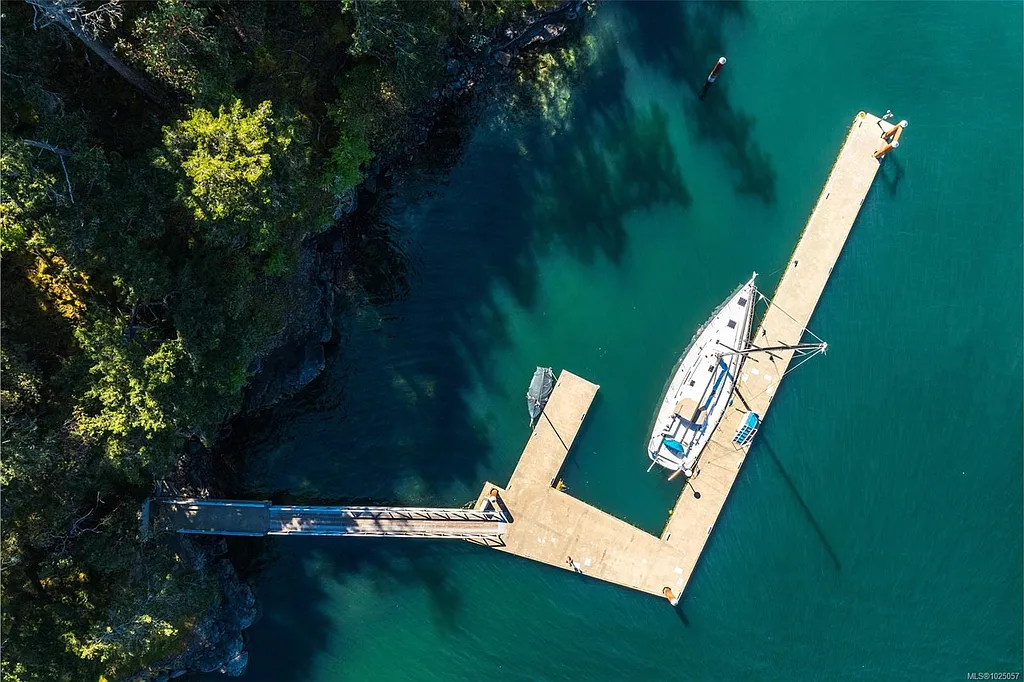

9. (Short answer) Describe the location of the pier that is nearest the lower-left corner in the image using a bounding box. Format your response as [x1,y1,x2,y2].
[149,494,284,538]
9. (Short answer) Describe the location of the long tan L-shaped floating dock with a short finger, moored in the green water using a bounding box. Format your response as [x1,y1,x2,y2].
[470,112,894,603]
